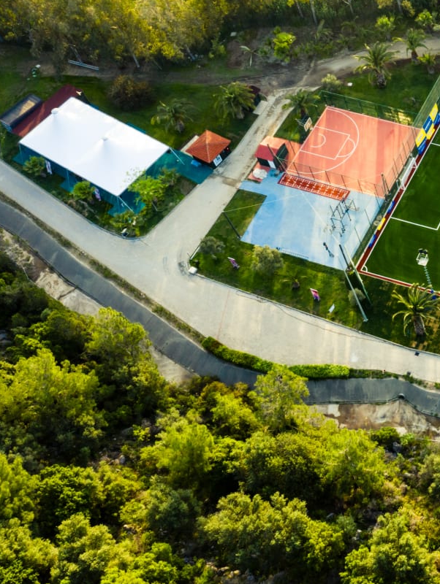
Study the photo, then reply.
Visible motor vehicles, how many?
0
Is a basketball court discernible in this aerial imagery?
Yes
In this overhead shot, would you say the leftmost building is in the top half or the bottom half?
top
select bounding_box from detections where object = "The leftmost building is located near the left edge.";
[0,95,44,143]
